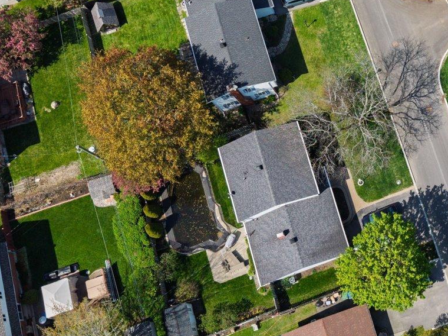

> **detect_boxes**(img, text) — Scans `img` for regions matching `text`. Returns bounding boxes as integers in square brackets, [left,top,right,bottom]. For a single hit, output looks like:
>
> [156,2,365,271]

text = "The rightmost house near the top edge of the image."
[184,0,280,109]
